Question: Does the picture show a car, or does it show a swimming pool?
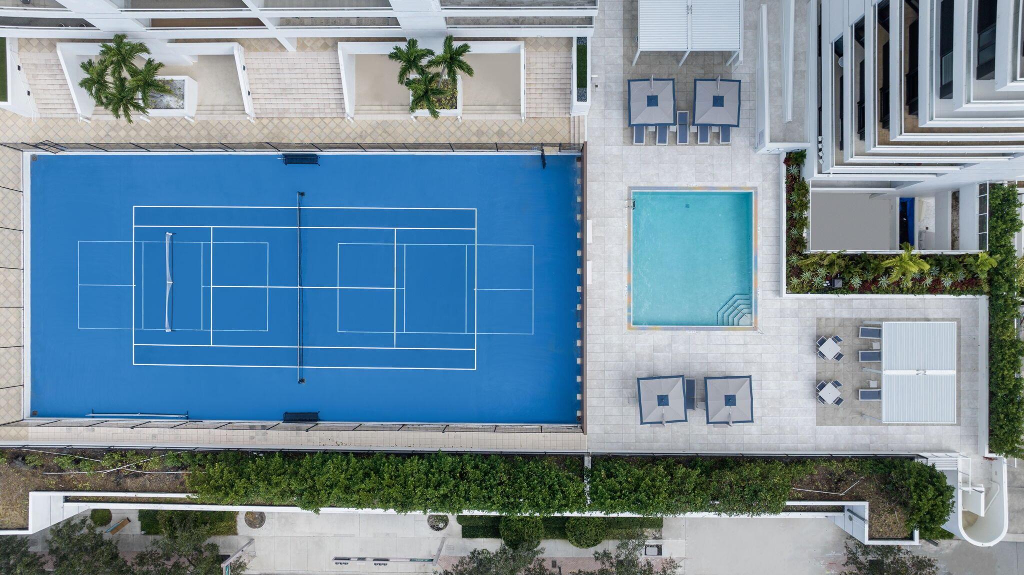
swimming pool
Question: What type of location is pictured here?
sports ground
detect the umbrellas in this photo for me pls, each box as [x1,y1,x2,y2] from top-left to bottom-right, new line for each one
[692,73,741,128]
[636,375,688,427]
[628,72,676,127]
[704,376,754,427]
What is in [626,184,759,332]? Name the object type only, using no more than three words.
swimming pool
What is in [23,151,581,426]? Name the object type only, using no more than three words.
tennis court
